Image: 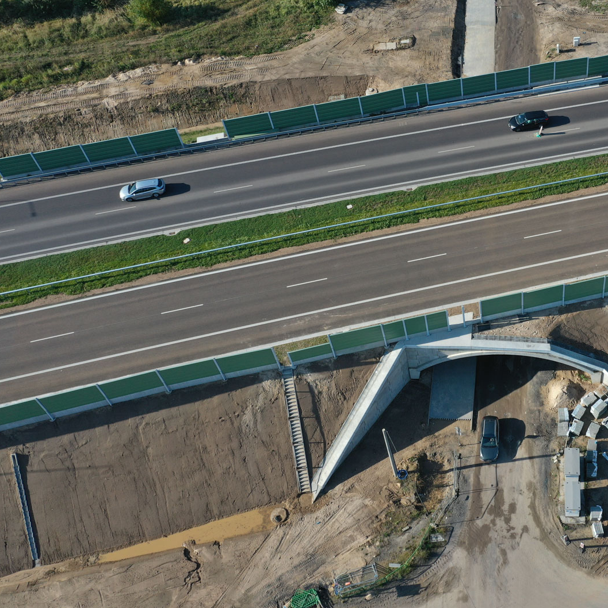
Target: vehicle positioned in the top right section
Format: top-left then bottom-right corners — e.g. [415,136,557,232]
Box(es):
[507,107,551,130]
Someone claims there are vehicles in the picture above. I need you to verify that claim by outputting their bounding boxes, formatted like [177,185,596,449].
[476,418,502,467]
[119,176,165,202]
[507,107,551,130]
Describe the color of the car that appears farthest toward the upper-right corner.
black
